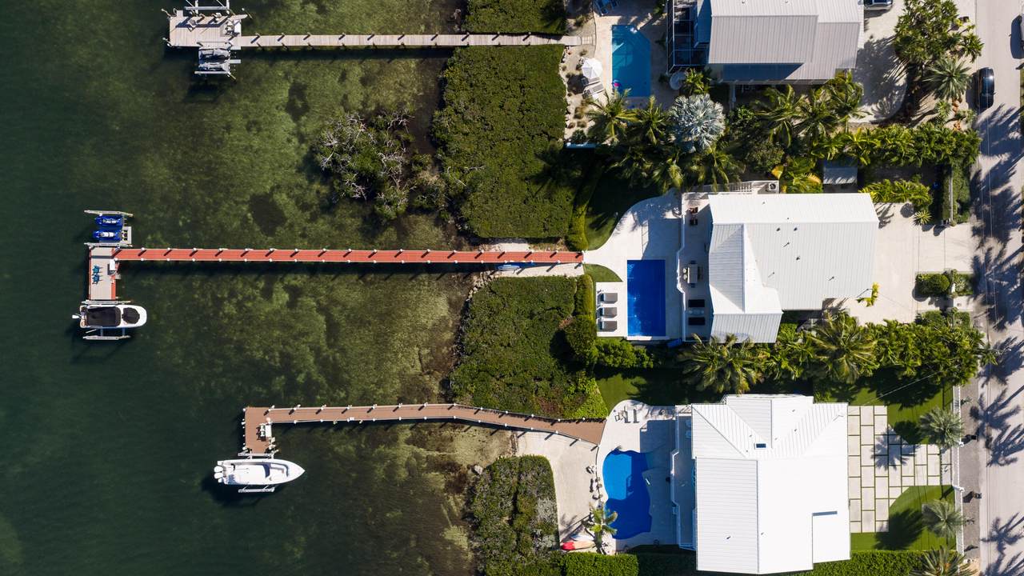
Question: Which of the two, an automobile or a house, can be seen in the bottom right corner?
house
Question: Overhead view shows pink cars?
No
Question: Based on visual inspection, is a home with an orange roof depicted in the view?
No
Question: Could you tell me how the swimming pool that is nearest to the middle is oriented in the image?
up and down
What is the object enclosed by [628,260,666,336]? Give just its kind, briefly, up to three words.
swimming pool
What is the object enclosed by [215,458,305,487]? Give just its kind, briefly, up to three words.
boat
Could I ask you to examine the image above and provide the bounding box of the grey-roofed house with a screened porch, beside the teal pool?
[668,0,862,94]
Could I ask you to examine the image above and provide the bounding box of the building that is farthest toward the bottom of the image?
[672,392,850,575]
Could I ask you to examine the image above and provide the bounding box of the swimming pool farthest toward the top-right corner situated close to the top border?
[613,24,651,96]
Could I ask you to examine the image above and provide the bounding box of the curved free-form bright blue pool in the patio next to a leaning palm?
[604,450,653,541]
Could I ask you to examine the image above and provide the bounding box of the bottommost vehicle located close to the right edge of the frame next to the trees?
[971,67,997,111]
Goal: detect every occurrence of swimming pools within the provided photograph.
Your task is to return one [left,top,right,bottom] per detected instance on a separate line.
[613,24,651,96]
[628,260,666,336]
[604,450,653,541]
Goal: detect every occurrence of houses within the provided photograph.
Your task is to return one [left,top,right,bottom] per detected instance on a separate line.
[672,392,850,575]
[668,0,862,94]
[677,181,879,344]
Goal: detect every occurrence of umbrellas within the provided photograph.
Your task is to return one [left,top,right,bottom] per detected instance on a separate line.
[580,58,602,81]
